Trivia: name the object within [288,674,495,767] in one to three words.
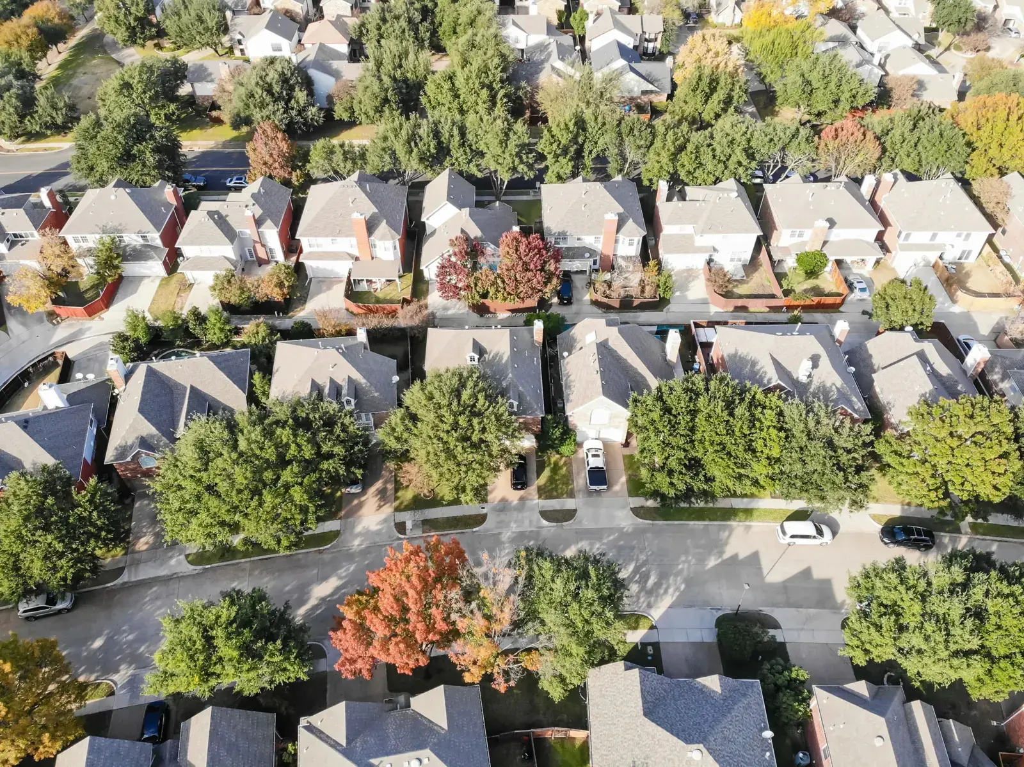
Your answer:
house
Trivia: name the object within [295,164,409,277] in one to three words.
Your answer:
house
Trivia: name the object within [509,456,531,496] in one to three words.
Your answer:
car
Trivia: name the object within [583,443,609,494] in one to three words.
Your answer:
truck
